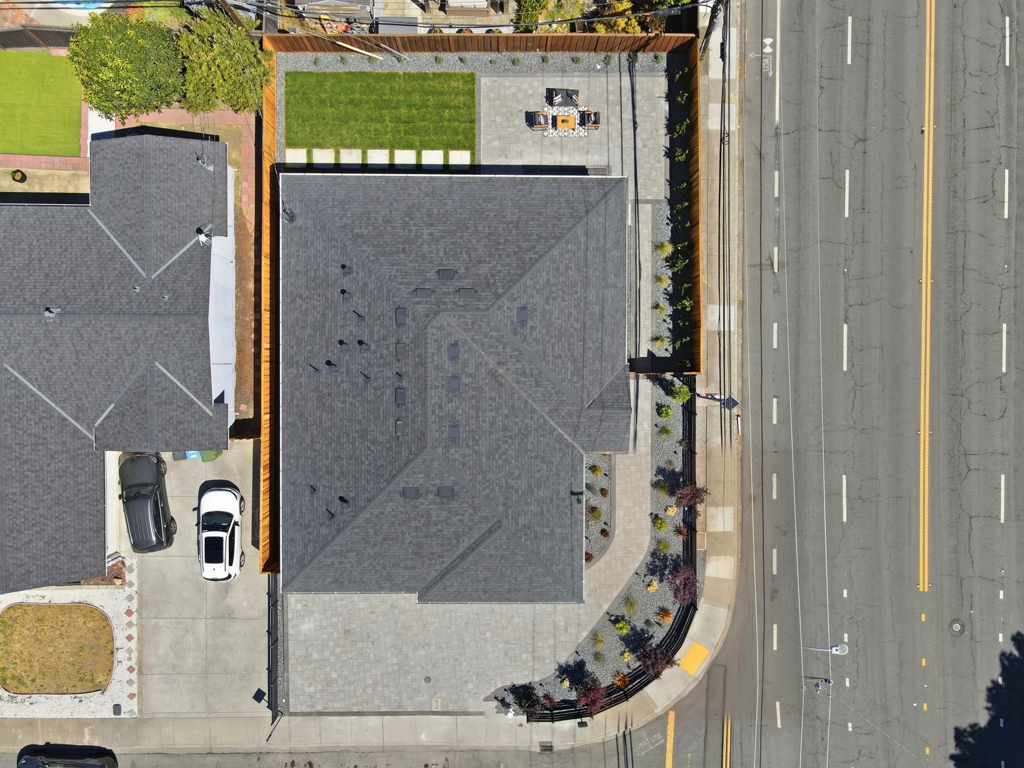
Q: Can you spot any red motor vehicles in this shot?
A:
No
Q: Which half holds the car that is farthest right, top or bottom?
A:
bottom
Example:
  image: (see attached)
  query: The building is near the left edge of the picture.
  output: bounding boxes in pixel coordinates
[0,131,247,593]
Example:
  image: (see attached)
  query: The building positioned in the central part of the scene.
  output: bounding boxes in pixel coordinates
[278,172,633,605]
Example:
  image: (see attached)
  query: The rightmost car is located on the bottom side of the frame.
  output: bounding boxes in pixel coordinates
[192,485,246,585]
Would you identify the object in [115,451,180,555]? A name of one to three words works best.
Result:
car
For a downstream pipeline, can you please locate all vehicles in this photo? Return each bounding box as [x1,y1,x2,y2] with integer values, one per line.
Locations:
[115,451,180,555]
[16,750,120,768]
[192,485,246,585]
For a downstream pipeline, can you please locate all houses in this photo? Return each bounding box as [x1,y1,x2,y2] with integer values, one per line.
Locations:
[278,172,633,605]
[0,131,247,593]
